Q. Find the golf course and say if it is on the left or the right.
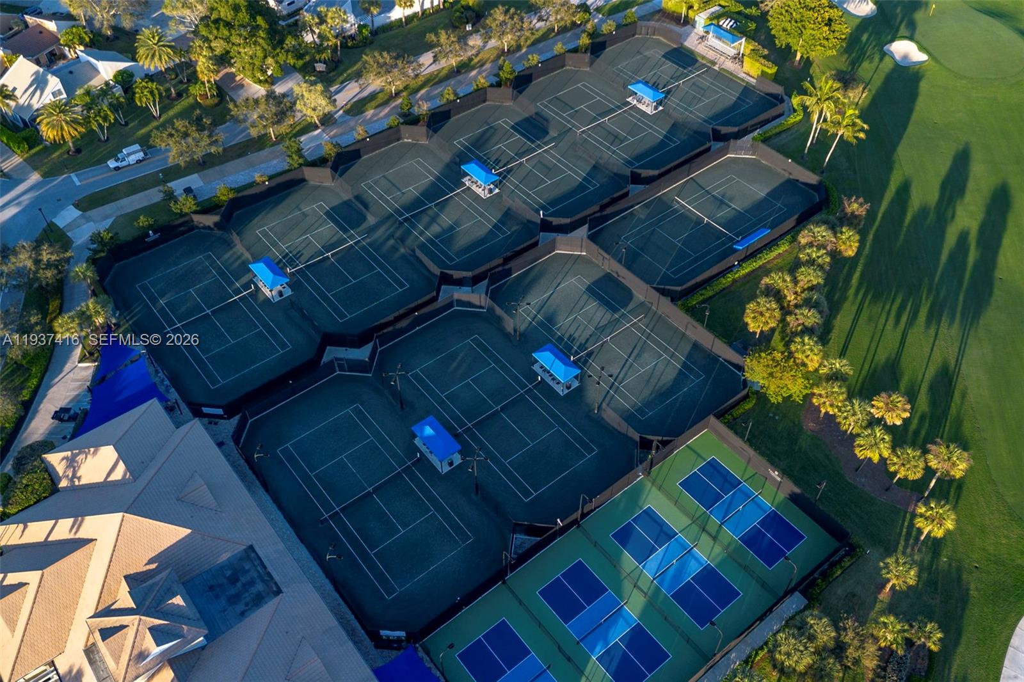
right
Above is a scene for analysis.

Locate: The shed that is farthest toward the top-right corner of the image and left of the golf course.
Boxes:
[693,6,724,31]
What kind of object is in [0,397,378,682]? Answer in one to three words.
building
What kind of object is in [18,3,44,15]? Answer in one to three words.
vehicle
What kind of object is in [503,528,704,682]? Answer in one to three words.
sports court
